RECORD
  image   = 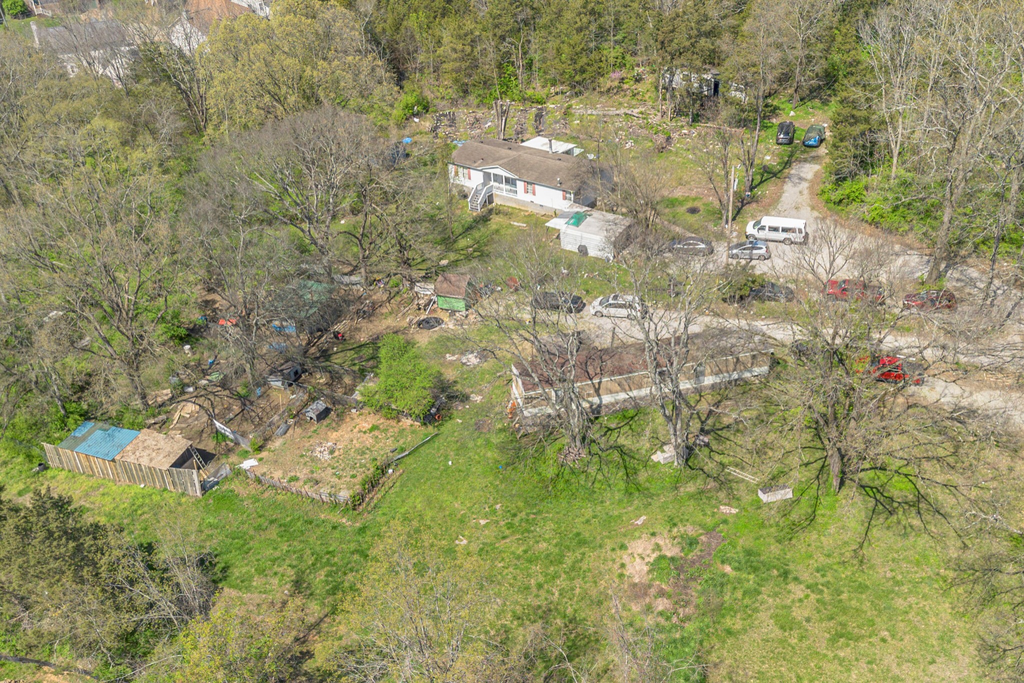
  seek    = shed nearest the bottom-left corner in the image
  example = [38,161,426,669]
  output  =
[48,409,197,491]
